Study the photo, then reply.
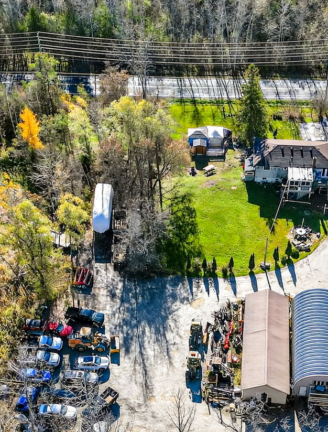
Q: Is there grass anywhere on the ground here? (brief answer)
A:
Yes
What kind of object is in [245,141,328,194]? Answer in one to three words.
house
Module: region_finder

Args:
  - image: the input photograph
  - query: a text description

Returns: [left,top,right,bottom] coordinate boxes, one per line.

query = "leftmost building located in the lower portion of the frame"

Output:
[239,286,288,403]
